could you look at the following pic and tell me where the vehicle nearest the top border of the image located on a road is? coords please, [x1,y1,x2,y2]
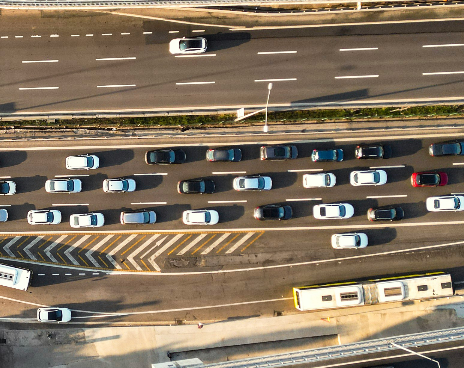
[170,35,207,54]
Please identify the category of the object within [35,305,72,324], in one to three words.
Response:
car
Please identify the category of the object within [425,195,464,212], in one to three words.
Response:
car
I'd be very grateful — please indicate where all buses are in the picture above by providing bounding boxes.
[0,263,35,293]
[289,274,458,313]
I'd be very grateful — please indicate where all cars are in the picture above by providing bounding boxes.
[425,195,464,212]
[254,203,292,221]
[182,208,218,226]
[0,209,9,223]
[233,173,273,191]
[0,179,17,197]
[177,177,216,195]
[314,202,352,219]
[65,153,102,171]
[364,205,405,223]
[299,171,339,189]
[35,305,72,324]
[328,231,368,250]
[347,169,387,186]
[46,177,81,195]
[146,149,183,165]
[207,146,241,164]
[409,170,449,188]
[354,143,391,160]
[27,209,61,225]
[100,176,138,195]
[120,209,157,226]
[259,143,298,162]
[170,35,207,54]
[68,211,105,229]
[309,146,344,164]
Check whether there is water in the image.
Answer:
No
